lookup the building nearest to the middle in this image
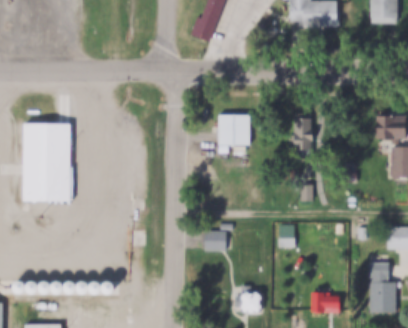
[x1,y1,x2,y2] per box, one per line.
[218,114,252,158]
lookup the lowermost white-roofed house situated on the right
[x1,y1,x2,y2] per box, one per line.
[234,292,262,316]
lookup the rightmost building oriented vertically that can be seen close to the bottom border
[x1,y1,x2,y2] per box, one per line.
[370,255,398,316]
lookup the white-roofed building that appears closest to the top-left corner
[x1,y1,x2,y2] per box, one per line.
[24,122,75,202]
